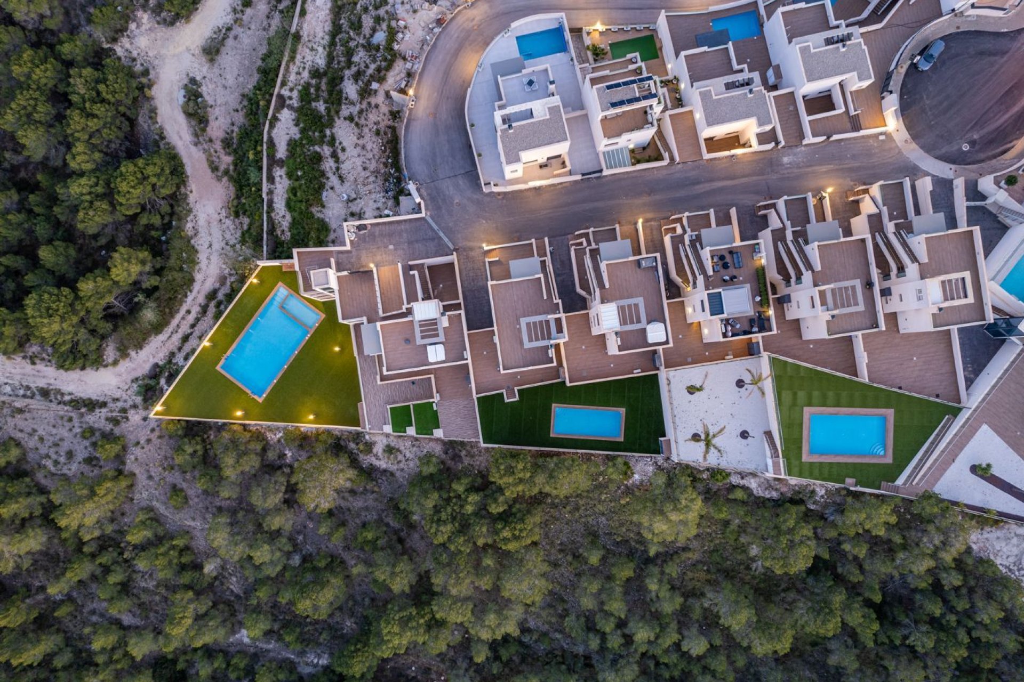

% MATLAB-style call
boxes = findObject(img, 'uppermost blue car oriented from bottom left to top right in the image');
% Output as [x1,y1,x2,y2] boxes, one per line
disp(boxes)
[914,37,947,73]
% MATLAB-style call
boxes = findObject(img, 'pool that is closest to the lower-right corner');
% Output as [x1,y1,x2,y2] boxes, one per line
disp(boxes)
[802,407,894,464]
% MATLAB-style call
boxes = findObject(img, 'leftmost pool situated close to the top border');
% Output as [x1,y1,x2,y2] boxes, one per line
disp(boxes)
[512,23,570,64]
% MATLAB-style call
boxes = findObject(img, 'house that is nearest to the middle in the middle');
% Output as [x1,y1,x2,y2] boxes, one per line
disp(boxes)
[488,257,569,373]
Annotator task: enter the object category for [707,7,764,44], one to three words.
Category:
swimming pool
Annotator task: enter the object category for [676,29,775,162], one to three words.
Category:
house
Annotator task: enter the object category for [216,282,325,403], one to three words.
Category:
swimming pool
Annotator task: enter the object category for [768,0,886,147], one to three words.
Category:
house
